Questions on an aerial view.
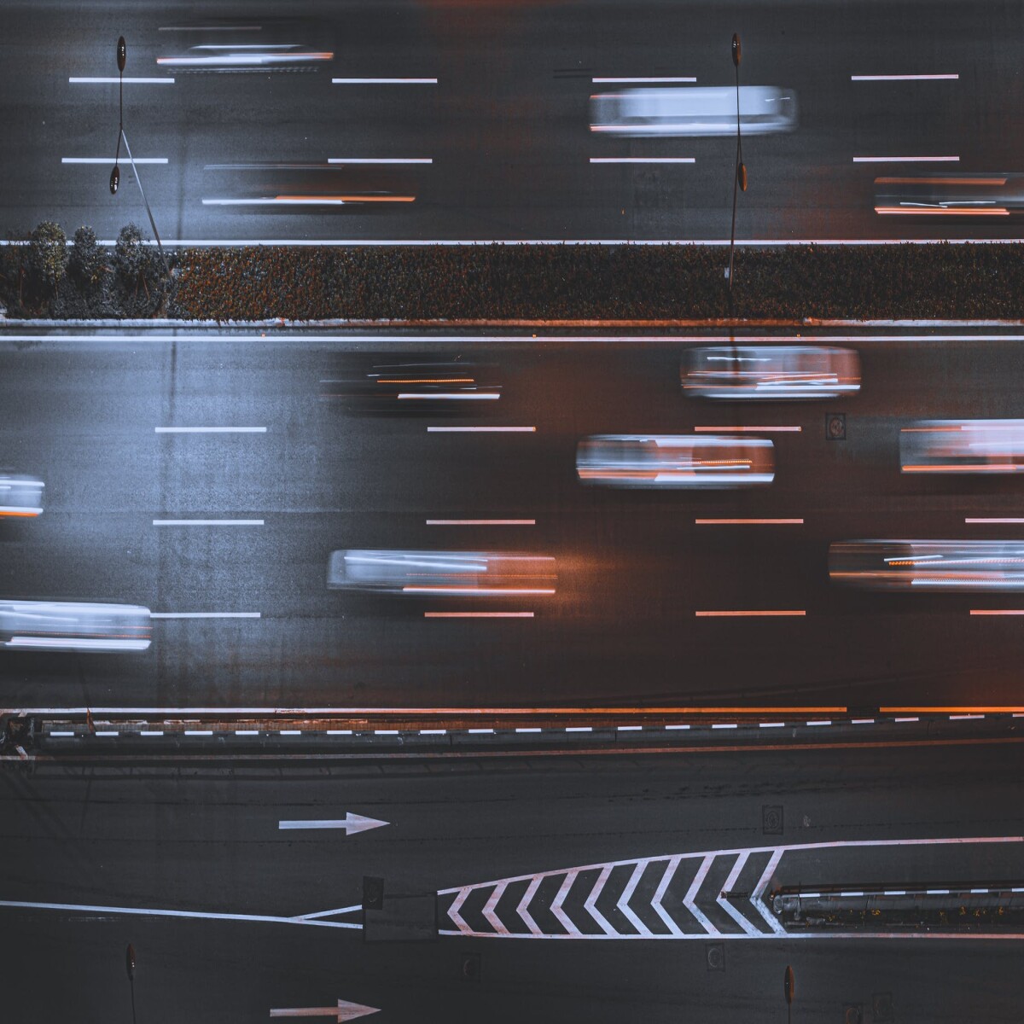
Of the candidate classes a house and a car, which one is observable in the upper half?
car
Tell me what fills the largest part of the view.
paved ground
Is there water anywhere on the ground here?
No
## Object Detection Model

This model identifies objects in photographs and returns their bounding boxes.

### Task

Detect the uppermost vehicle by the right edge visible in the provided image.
[877,162,1017,223]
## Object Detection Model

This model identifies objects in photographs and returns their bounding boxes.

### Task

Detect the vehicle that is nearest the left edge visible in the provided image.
[0,469,40,523]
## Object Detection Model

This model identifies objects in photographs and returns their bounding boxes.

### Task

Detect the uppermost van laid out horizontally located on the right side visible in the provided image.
[608,72,778,138]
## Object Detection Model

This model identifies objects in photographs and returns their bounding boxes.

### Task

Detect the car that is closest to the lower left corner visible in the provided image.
[0,591,149,656]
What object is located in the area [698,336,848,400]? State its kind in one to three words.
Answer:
car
